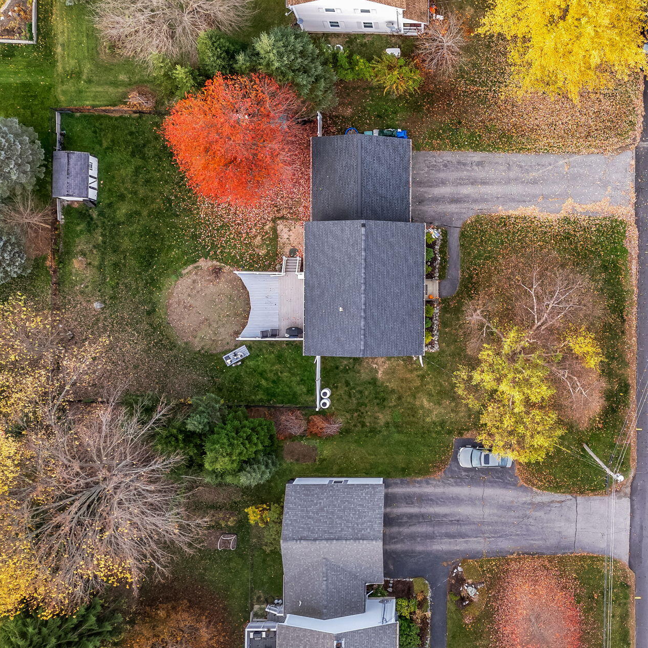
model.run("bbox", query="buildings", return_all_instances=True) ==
[275,478,400,648]
[278,0,432,36]
[301,134,439,367]
[55,150,102,211]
